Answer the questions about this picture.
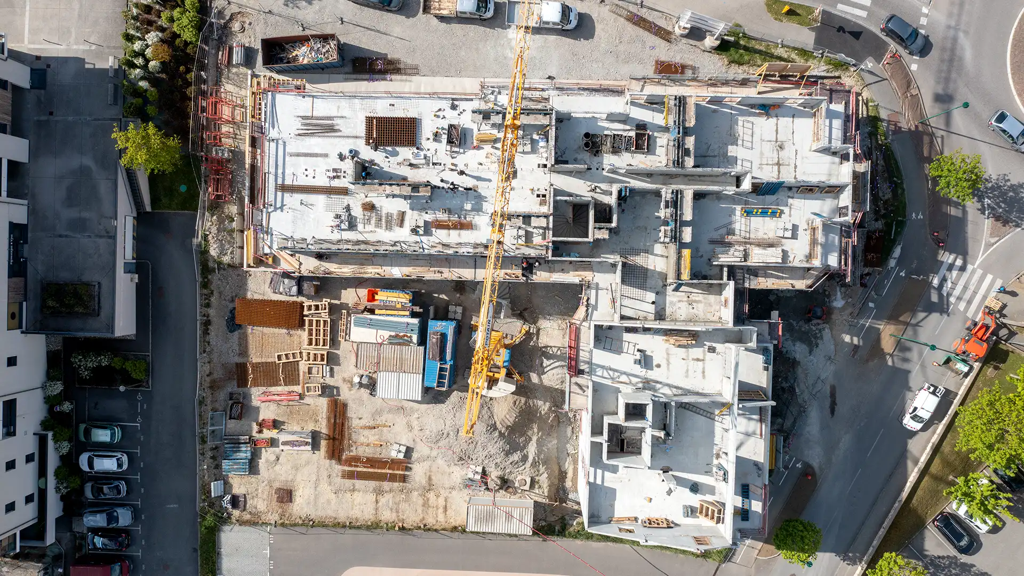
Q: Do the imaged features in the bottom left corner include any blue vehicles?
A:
Yes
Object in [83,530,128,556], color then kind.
black car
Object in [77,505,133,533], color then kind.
blue car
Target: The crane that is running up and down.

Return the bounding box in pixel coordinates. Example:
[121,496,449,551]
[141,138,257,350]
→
[460,0,535,435]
